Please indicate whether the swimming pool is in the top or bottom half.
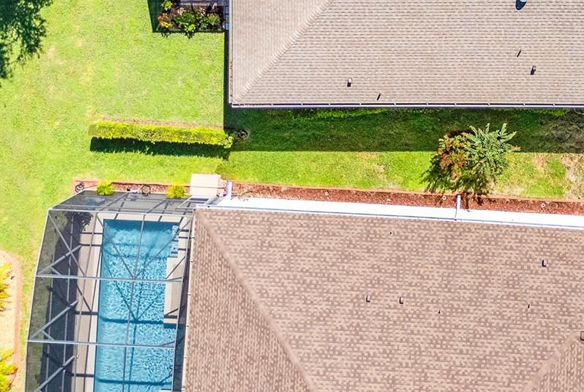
bottom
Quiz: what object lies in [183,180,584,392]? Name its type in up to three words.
house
